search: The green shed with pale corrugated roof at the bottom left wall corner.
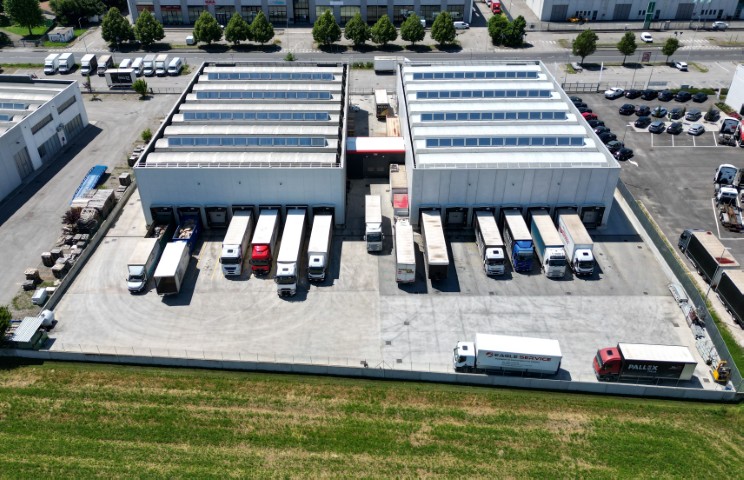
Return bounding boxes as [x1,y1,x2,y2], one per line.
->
[9,317,50,348]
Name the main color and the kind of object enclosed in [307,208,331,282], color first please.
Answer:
white truck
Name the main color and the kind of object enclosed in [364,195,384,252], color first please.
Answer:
white vehicle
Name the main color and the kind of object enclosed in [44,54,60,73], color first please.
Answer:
white vehicle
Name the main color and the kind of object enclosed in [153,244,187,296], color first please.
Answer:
white trailer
